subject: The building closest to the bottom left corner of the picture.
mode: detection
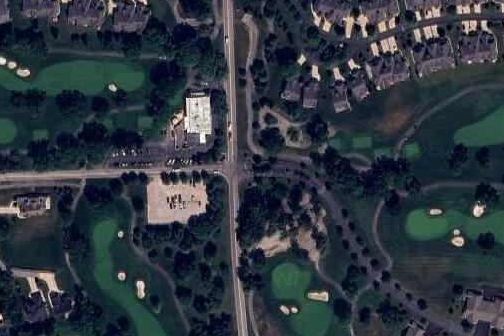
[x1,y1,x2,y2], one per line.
[23,294,49,320]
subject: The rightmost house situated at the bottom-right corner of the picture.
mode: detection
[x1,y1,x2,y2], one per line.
[464,296,504,326]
